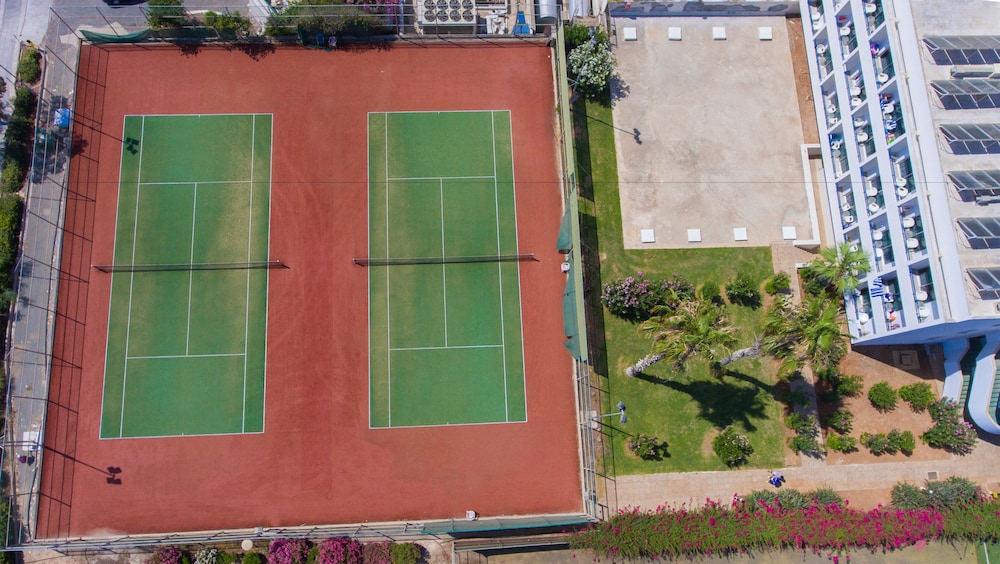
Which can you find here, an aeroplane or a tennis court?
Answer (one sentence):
This aerial view contains a tennis court.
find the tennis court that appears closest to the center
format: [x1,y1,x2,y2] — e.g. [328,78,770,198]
[354,110,532,428]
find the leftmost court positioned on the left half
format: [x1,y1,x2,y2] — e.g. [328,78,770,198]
[91,114,282,438]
